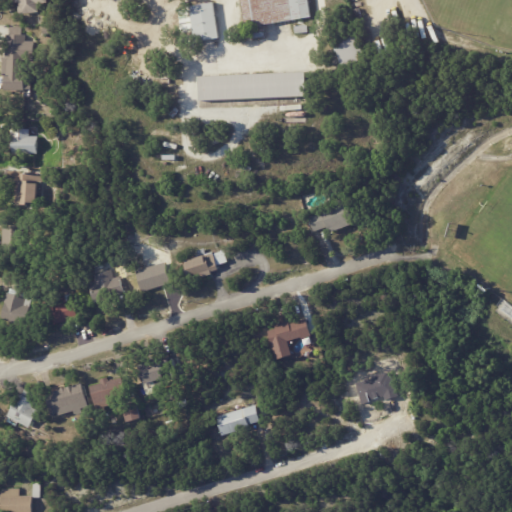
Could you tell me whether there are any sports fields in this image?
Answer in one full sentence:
Yes, there's a sports field down there.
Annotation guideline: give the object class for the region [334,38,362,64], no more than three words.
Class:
building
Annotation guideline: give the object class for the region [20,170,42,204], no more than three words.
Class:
house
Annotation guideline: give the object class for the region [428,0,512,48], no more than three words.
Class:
sports field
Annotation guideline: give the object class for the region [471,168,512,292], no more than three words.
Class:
sports field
